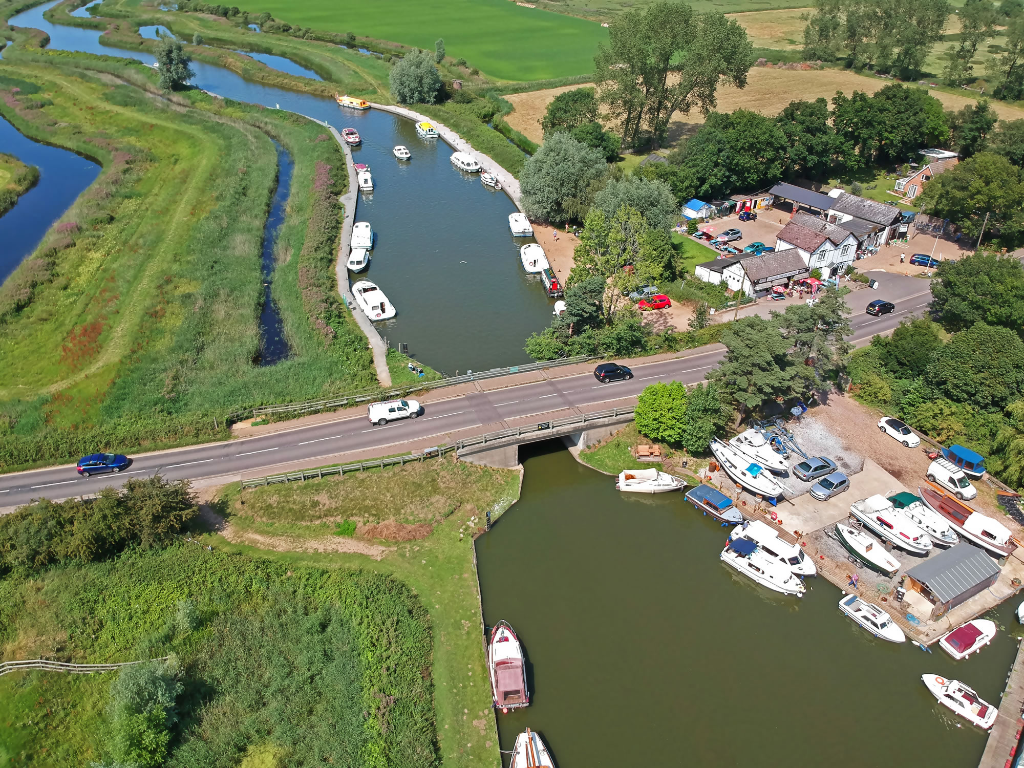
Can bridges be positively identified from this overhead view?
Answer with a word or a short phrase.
Yes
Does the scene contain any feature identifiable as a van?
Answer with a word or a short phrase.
Yes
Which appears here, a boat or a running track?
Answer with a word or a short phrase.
boat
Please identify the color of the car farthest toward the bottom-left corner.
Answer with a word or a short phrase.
blue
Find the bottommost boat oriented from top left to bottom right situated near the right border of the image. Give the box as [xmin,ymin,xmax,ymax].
[918,675,999,737]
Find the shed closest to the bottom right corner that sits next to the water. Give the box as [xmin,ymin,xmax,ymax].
[889,542,1001,627]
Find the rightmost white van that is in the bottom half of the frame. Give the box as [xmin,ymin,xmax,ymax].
[927,456,982,498]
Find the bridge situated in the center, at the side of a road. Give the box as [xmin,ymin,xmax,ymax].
[442,355,643,465]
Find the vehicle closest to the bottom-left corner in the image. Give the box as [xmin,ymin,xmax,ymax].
[72,450,126,474]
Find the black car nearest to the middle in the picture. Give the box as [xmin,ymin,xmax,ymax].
[594,362,634,380]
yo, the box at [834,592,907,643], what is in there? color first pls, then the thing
white boat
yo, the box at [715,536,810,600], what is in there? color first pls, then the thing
white boat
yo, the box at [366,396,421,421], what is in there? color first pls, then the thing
white truck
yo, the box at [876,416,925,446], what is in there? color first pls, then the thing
white car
